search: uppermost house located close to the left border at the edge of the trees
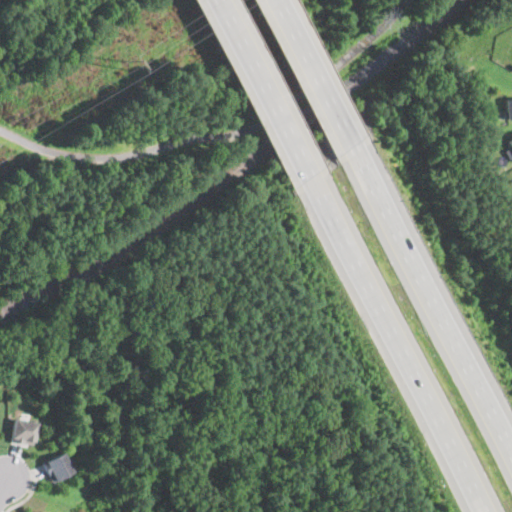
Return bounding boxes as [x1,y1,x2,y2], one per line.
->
[12,412,40,448]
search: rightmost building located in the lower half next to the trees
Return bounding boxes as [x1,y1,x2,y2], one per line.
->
[42,456,77,484]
